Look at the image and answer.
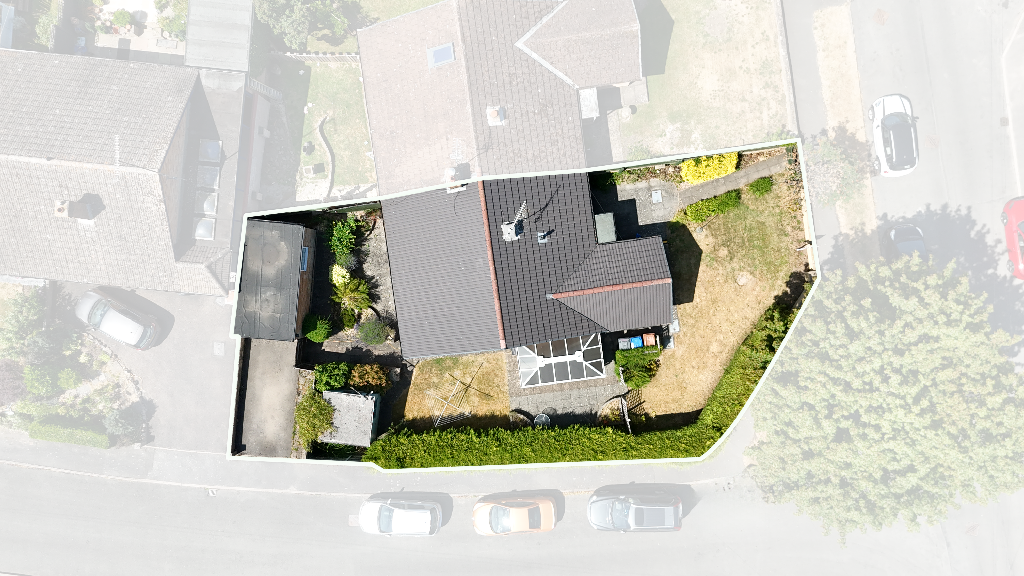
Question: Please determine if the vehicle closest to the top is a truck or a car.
car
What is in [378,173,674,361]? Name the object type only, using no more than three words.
house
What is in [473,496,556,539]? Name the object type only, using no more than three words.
car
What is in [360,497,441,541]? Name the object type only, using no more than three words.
car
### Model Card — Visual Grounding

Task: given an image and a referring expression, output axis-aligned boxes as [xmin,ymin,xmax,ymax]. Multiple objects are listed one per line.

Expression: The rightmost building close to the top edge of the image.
[354,0,641,202]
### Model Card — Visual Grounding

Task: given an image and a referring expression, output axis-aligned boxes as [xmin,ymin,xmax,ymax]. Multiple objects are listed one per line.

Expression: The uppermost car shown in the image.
[871,97,919,174]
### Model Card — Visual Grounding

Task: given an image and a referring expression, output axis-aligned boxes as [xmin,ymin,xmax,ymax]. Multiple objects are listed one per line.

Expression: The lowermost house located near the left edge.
[0,47,269,299]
